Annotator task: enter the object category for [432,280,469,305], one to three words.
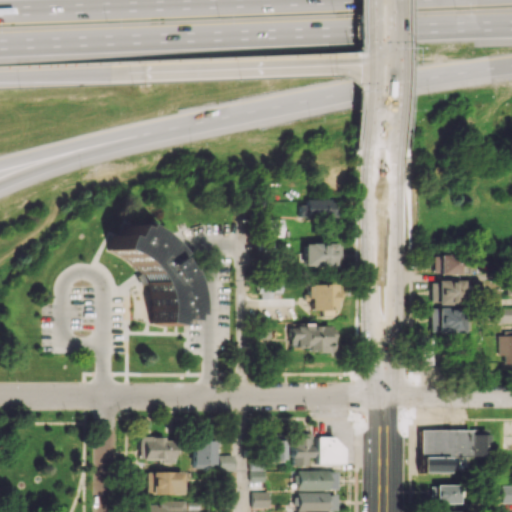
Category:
house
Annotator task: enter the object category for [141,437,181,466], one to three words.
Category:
house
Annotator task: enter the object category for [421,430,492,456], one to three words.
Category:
building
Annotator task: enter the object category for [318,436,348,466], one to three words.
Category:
building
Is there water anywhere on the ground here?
No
